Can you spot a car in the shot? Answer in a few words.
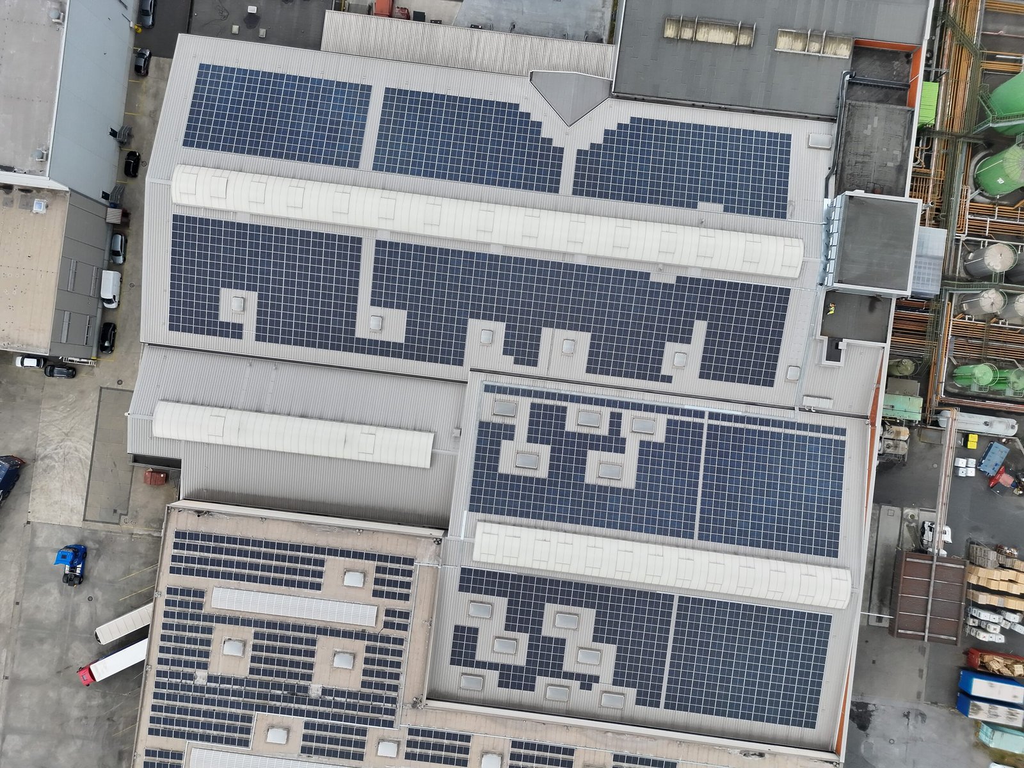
Yes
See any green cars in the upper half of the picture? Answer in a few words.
No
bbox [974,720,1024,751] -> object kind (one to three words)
shipping container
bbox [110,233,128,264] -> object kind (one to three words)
car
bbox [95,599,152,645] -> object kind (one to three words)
trailer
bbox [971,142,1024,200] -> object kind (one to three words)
storage tank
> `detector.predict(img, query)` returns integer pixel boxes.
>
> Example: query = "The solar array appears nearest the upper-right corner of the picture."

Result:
[572,116,792,219]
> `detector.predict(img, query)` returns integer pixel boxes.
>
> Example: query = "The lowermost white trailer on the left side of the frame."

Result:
[90,637,146,682]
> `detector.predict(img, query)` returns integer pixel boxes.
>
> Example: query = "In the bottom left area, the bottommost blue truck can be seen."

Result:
[55,544,87,587]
